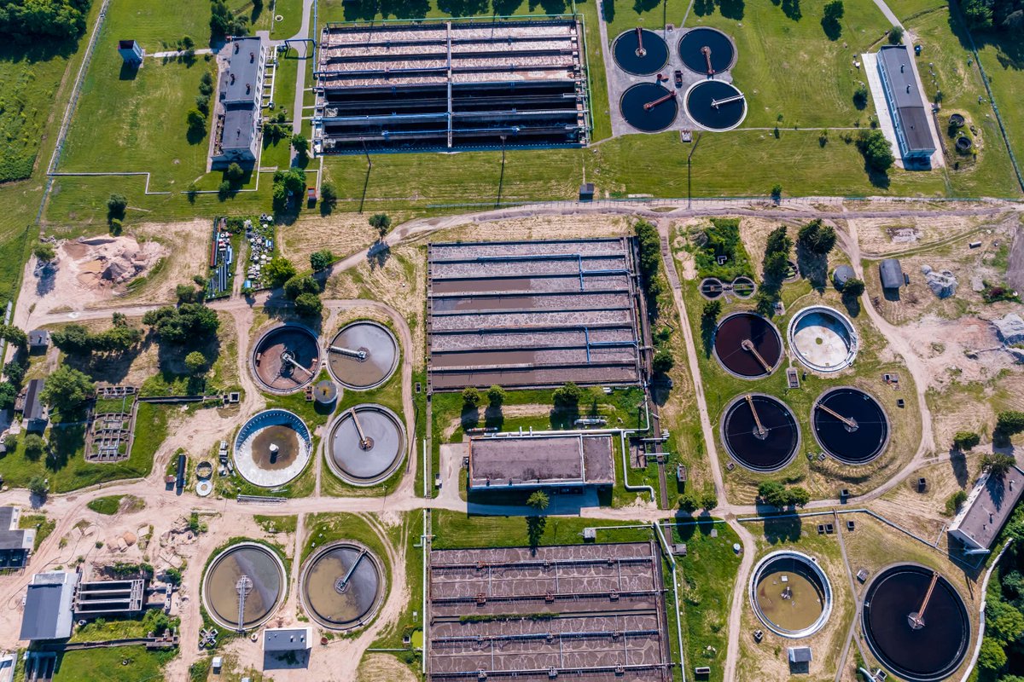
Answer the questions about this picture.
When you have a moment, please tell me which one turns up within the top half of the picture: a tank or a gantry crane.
tank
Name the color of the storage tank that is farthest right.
black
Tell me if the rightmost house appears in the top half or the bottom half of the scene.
bottom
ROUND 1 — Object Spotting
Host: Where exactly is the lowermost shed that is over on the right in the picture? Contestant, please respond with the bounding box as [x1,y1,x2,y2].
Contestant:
[788,647,812,662]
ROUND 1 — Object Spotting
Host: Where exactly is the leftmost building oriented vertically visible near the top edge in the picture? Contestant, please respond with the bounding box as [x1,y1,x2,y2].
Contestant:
[212,34,266,164]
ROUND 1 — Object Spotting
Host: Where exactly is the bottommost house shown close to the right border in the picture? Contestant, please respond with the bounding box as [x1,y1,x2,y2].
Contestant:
[948,465,1024,555]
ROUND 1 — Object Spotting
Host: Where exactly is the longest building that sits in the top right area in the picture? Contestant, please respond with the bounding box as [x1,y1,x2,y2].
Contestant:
[875,41,935,158]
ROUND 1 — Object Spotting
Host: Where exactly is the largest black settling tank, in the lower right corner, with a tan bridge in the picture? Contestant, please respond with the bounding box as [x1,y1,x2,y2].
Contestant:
[861,565,974,682]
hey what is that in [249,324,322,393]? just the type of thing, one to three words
storage tank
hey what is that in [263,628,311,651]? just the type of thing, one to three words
shed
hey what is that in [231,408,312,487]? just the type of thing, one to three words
storage tank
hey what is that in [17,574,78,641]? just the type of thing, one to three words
building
